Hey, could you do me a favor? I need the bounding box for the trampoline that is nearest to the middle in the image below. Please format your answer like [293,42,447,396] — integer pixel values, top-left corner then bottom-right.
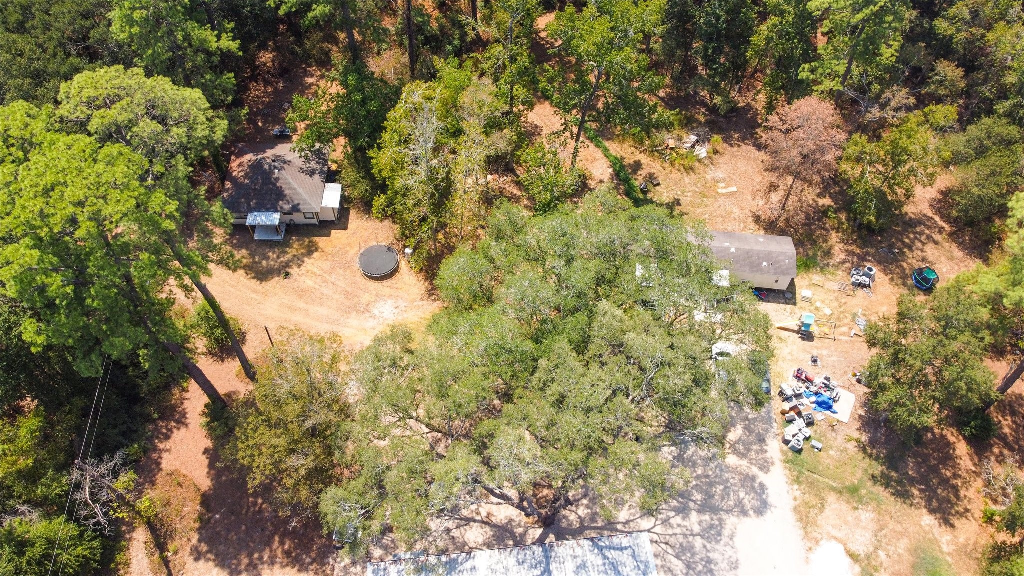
[356,240,401,282]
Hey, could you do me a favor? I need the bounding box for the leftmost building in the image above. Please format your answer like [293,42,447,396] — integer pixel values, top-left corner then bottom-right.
[215,143,345,247]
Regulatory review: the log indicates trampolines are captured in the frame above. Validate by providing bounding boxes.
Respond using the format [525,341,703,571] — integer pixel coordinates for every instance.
[910,266,943,295]
[356,240,401,282]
